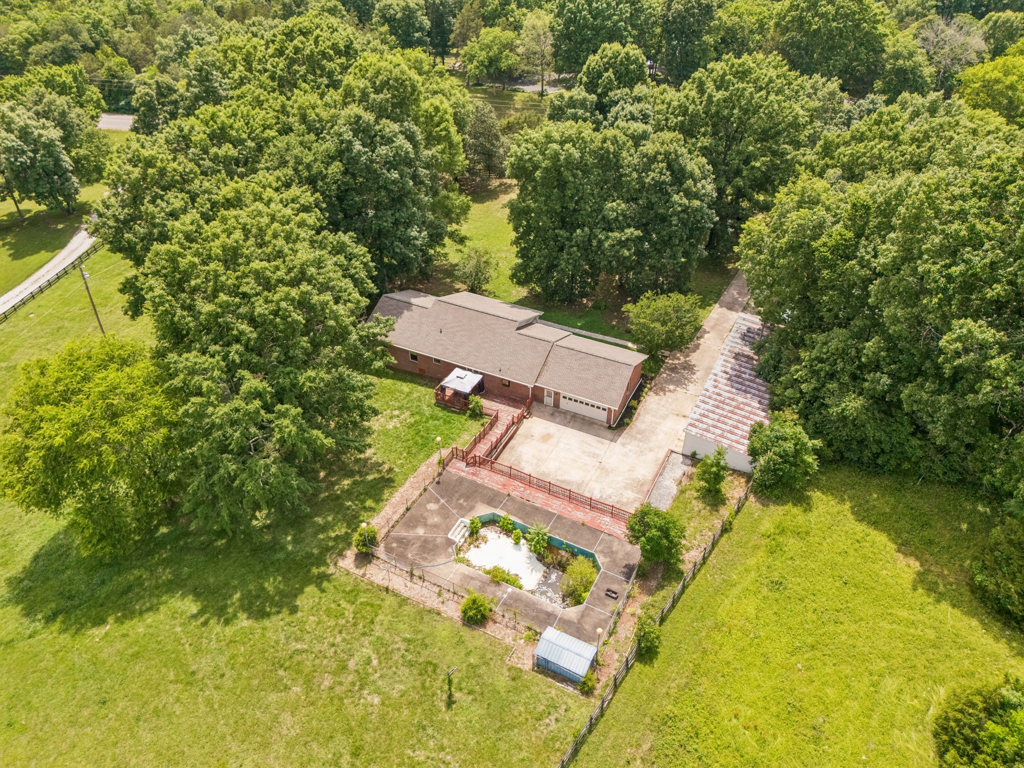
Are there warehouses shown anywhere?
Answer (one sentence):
No, the photo shows no warehouse.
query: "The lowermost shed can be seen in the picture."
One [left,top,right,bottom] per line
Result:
[533,624,599,686]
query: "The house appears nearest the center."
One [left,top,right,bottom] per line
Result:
[357,293,648,424]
